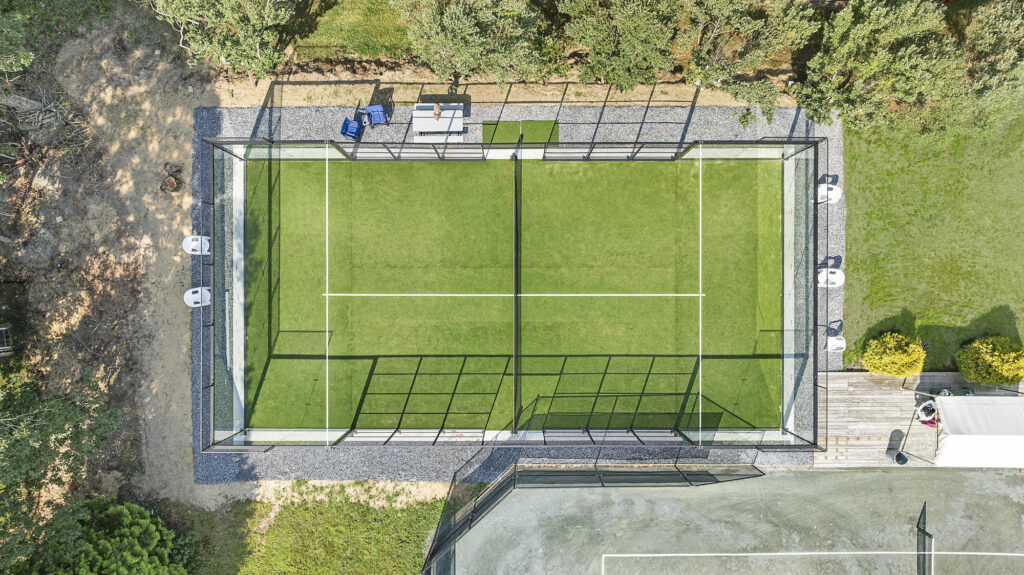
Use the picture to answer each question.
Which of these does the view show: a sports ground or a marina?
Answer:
sports ground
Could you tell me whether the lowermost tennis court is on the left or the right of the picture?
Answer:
right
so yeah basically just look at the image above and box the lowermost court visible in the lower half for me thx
[430,467,1024,575]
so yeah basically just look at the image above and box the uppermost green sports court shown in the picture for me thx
[234,147,794,441]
